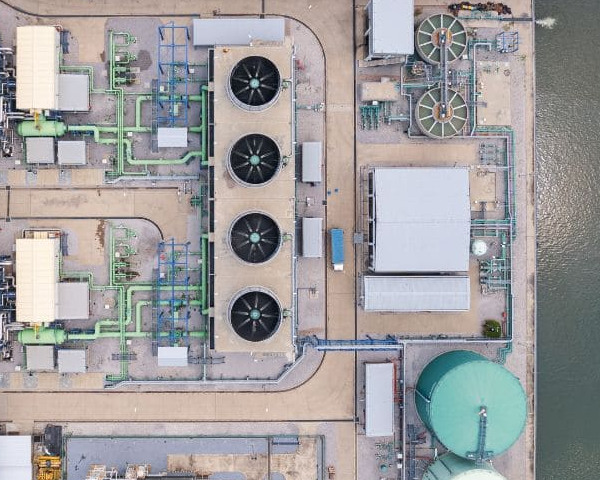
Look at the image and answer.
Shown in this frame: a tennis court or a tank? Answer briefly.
tank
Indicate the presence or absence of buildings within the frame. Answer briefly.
Yes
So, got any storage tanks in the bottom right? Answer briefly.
Yes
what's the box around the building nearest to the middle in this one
[301,218,322,258]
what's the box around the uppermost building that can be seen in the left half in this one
[192,18,285,49]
